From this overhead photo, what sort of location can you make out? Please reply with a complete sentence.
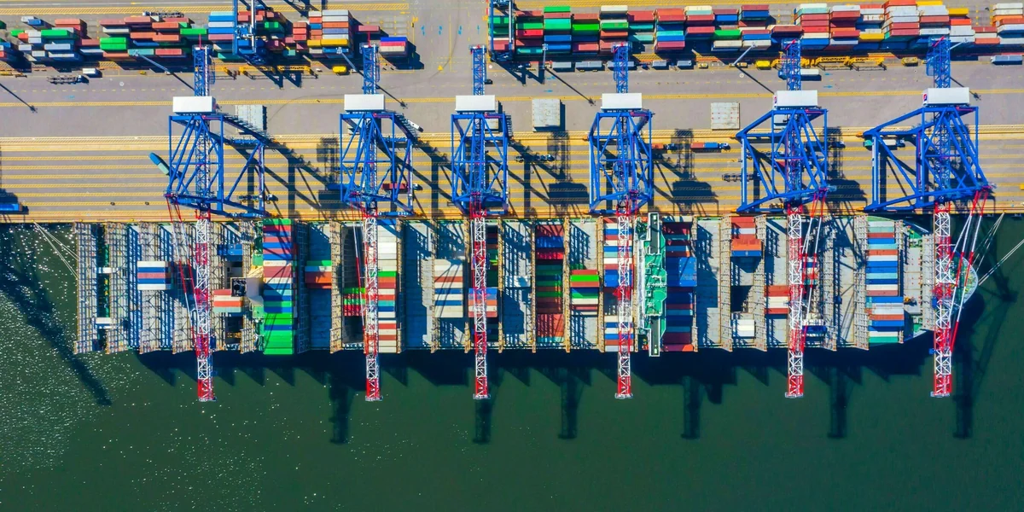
The area seen from above is a port.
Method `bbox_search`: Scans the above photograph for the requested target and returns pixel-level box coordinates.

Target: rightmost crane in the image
[848,33,1001,400]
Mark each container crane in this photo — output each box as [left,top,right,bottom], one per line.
[575,38,658,401]
[722,35,838,401]
[449,40,519,403]
[848,33,1001,400]
[159,44,282,404]
[339,43,426,403]
[489,0,518,58]
[231,0,275,57]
